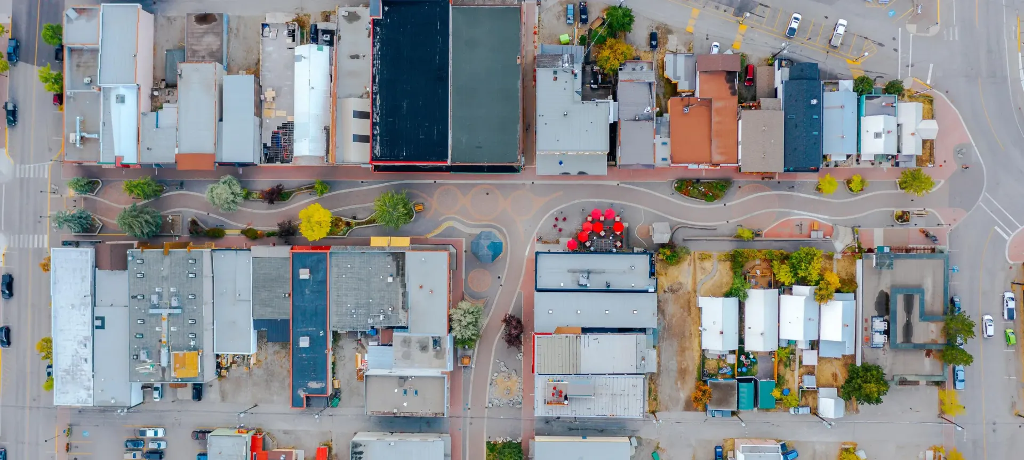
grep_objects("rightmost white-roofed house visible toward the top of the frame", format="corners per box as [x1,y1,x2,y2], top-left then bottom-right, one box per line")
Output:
[893,101,939,167]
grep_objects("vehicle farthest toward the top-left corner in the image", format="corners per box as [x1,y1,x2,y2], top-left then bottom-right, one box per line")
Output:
[6,38,20,63]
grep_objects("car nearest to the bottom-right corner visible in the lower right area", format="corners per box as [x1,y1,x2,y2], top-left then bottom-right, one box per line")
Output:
[953,366,966,389]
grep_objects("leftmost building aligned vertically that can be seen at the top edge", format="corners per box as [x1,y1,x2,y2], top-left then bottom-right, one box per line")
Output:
[63,5,102,165]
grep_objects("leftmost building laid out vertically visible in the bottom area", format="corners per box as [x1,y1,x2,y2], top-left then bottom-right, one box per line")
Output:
[52,243,99,406]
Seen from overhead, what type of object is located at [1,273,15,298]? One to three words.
vehicle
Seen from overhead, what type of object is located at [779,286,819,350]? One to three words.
house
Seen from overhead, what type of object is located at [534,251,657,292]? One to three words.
building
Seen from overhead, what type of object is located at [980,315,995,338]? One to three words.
car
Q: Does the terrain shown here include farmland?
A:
No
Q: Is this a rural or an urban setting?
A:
urban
